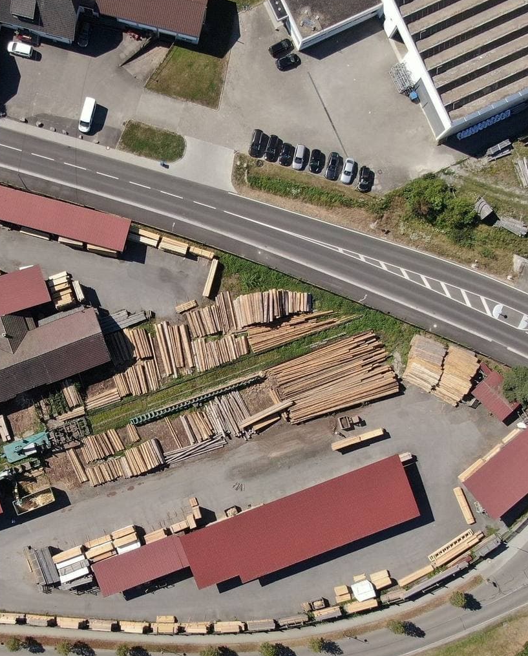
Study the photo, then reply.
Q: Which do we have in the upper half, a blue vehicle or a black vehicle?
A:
black vehicle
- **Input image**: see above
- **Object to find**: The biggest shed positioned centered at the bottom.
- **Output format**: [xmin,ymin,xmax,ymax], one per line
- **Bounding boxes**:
[178,454,420,589]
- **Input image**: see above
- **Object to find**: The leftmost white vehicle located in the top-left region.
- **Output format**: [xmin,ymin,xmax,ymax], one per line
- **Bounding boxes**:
[8,42,34,58]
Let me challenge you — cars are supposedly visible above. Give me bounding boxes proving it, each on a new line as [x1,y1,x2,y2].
[279,143,294,168]
[8,42,34,58]
[265,135,280,164]
[275,55,301,73]
[355,166,371,193]
[250,130,266,159]
[307,149,322,176]
[267,40,293,60]
[340,158,355,186]
[324,152,341,182]
[292,143,308,172]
